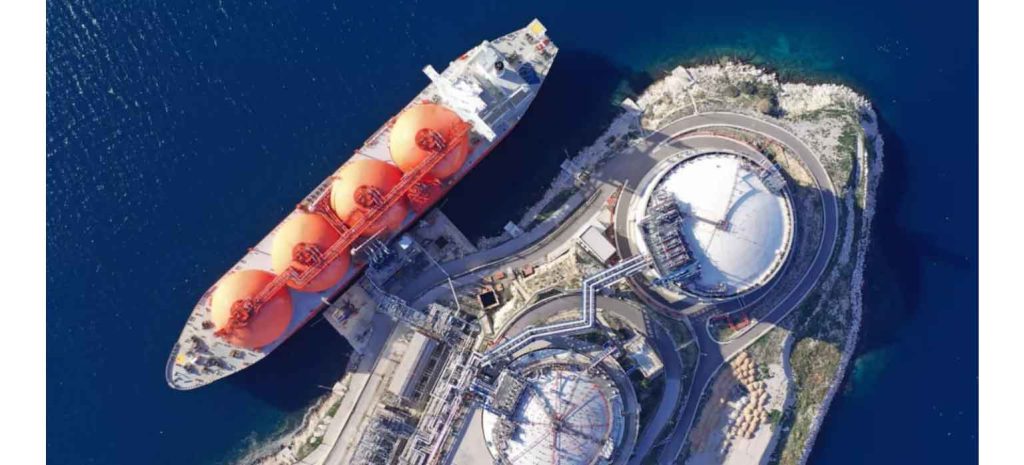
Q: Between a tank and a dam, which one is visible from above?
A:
tank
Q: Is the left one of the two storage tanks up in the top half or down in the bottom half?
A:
bottom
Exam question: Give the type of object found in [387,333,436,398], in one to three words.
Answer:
shed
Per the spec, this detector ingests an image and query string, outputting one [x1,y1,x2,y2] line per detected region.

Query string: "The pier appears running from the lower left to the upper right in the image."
[322,207,478,362]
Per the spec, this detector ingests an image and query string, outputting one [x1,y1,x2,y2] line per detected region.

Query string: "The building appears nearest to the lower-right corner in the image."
[622,334,663,379]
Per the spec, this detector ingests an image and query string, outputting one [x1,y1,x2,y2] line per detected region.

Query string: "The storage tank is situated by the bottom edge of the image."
[466,343,626,465]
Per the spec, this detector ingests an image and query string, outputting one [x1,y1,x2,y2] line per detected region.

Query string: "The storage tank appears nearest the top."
[631,147,796,304]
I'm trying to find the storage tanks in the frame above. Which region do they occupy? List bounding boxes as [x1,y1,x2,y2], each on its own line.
[631,147,796,304]
[466,343,626,465]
